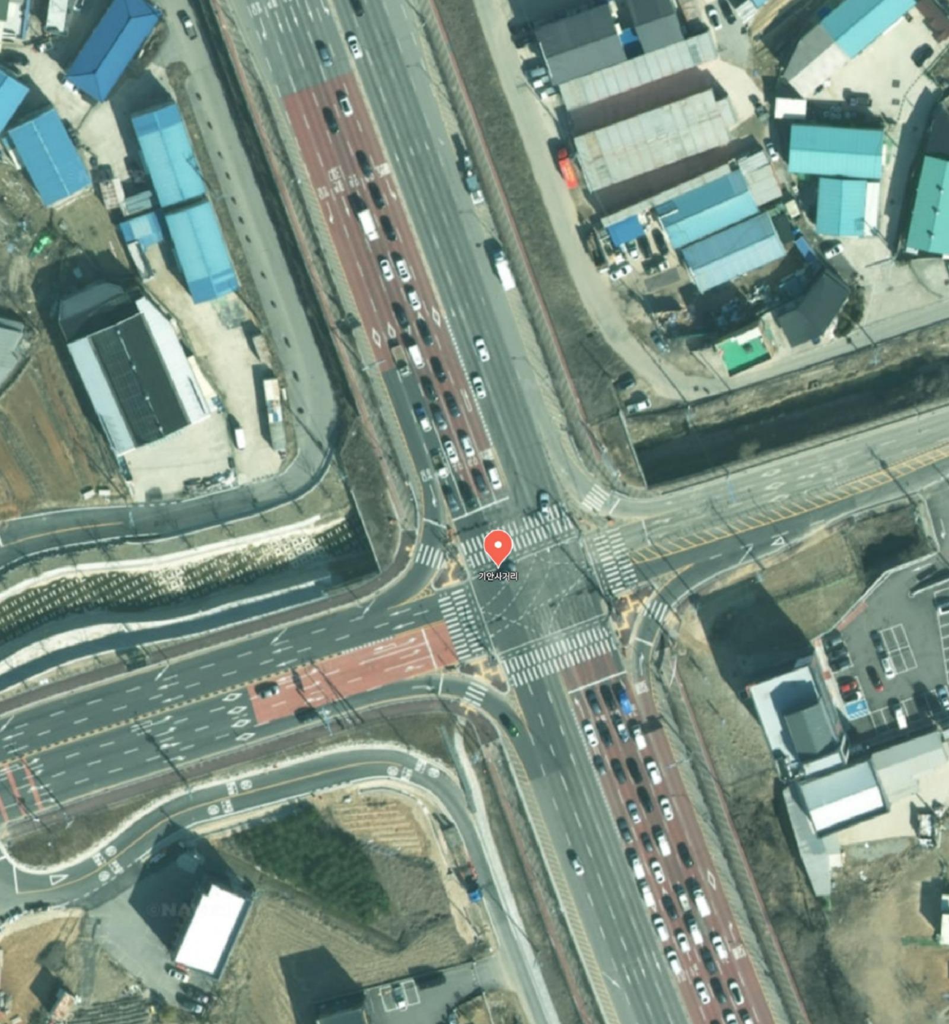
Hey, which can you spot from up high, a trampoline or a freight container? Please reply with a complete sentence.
Looking from above, you can make out a freight container.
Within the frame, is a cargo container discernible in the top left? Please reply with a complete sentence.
Yes, a cargo container shows up in the top left.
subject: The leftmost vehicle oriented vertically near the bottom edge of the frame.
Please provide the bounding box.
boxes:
[394,984,406,1007]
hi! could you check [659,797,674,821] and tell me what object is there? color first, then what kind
white car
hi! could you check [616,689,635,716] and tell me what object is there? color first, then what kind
blue vehicle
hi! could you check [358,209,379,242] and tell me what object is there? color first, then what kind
white truck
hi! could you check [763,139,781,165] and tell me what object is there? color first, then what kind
white vehicle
